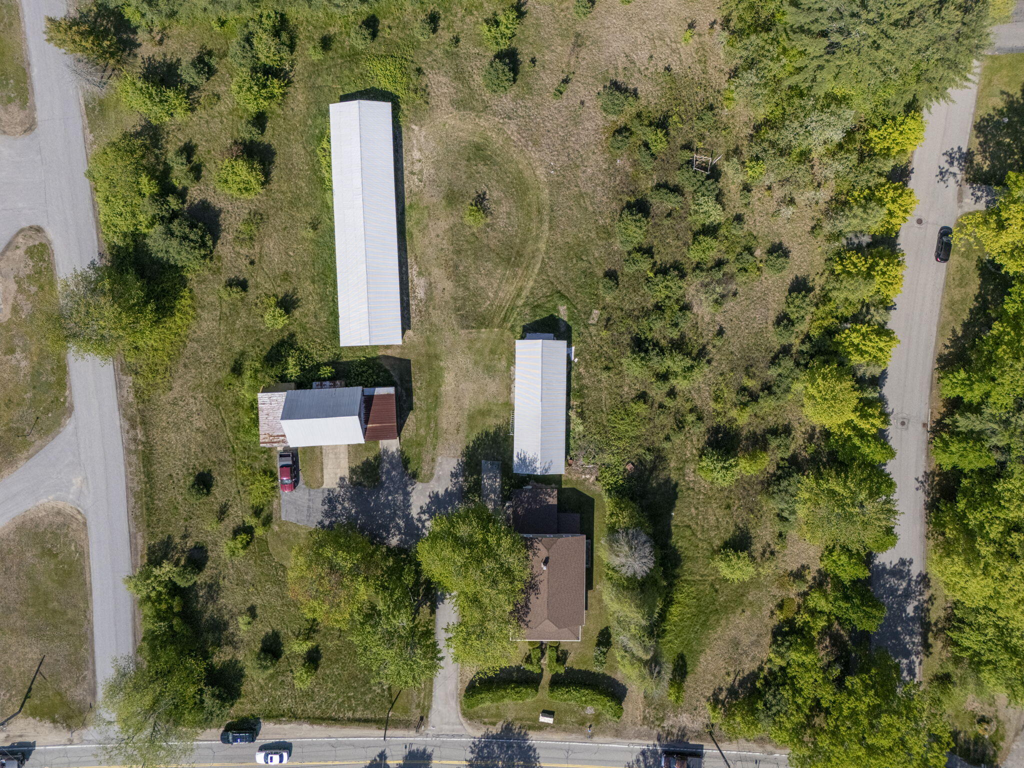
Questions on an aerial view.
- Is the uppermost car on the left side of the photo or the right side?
right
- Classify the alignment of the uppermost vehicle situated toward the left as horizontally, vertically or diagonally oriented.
vertically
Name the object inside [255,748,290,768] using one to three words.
car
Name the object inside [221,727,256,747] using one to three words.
car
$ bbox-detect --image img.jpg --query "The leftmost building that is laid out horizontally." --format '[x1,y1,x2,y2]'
[257,381,402,448]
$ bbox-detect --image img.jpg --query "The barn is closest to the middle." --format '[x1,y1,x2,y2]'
[513,333,575,476]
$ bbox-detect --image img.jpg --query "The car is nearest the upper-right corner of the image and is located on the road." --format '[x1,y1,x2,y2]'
[934,226,955,262]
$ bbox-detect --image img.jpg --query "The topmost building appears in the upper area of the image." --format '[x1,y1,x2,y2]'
[330,99,405,346]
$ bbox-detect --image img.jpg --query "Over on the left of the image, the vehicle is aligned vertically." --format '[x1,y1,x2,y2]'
[278,449,298,493]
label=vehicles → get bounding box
[278,449,298,493]
[221,727,256,747]
[255,748,290,768]
[659,752,703,768]
[934,226,955,262]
